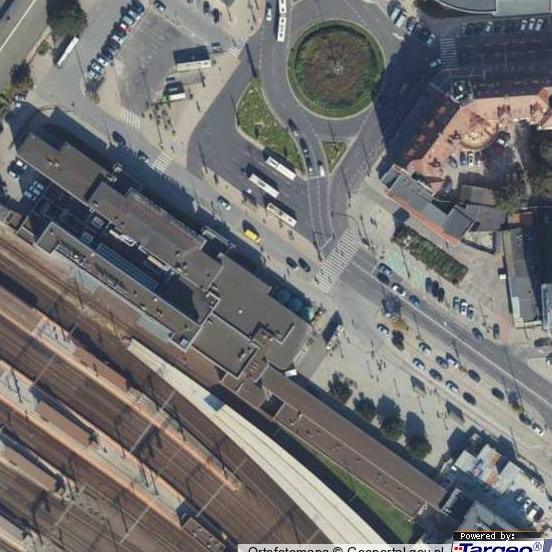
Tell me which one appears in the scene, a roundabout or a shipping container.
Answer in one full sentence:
There is a roundabout in the scene.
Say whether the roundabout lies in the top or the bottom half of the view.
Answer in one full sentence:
You can find the roundabout in the top half.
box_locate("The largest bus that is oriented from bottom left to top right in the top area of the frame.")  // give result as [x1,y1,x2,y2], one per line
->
[56,36,80,67]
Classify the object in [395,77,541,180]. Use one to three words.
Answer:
building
